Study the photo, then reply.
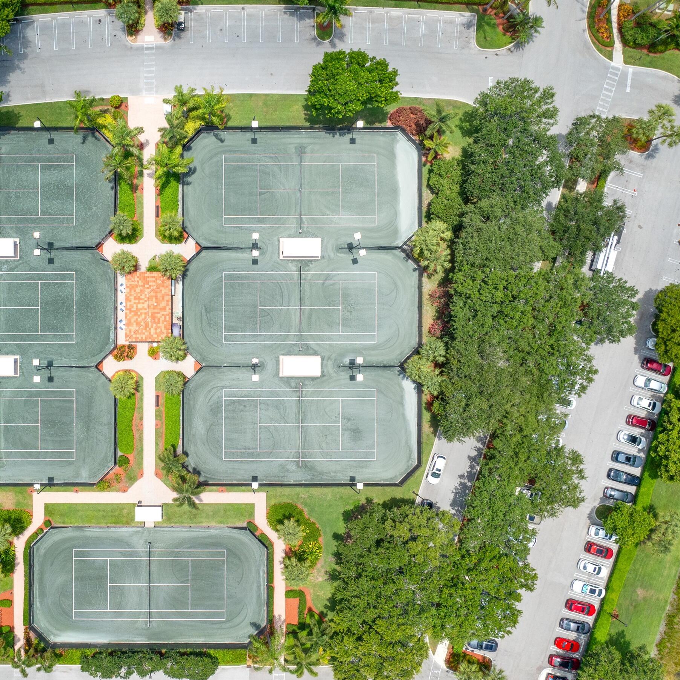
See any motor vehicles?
Yes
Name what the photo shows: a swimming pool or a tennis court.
tennis court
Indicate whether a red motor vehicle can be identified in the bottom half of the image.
Yes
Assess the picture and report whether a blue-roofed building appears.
No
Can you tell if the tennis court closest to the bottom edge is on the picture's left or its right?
left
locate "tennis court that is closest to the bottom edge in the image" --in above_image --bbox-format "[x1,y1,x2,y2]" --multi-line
[33,529,265,641]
